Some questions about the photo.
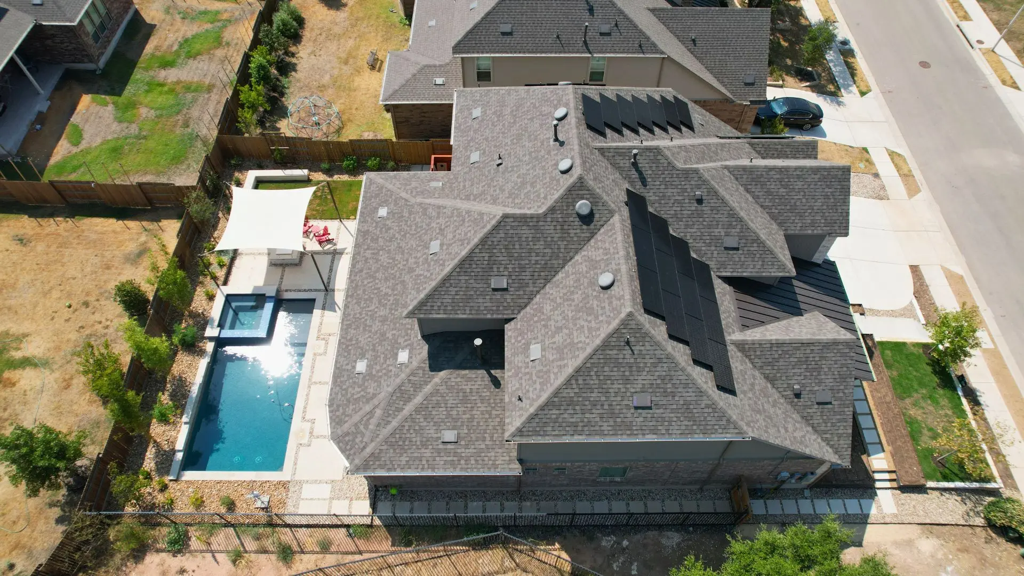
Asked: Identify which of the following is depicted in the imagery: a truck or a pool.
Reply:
pool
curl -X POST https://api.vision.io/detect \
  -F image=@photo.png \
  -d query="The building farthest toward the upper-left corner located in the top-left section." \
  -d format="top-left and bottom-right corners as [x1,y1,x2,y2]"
[0,0,139,158]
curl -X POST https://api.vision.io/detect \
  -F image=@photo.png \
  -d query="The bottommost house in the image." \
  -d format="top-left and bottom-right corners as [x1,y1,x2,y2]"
[324,82,879,497]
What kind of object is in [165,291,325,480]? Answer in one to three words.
swimming pool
